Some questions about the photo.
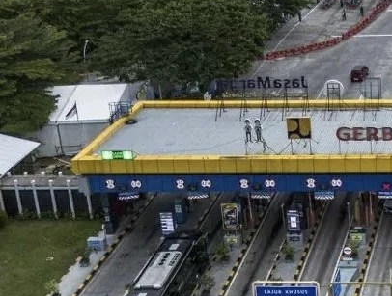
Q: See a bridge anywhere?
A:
No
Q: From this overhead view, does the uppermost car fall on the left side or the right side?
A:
right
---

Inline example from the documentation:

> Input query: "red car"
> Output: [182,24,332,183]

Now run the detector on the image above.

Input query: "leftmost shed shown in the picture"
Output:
[0,131,35,186]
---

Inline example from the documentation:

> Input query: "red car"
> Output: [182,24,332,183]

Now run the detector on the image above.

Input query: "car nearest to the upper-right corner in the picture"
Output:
[350,60,375,81]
